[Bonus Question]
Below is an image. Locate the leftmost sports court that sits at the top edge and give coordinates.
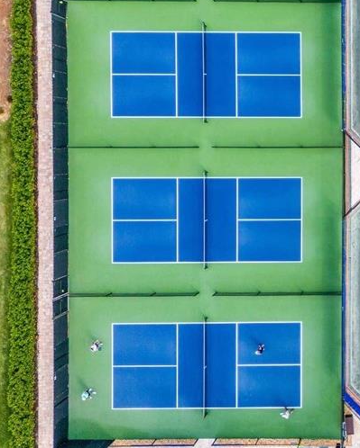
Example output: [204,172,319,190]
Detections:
[66,0,339,147]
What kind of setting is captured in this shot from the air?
sports ground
